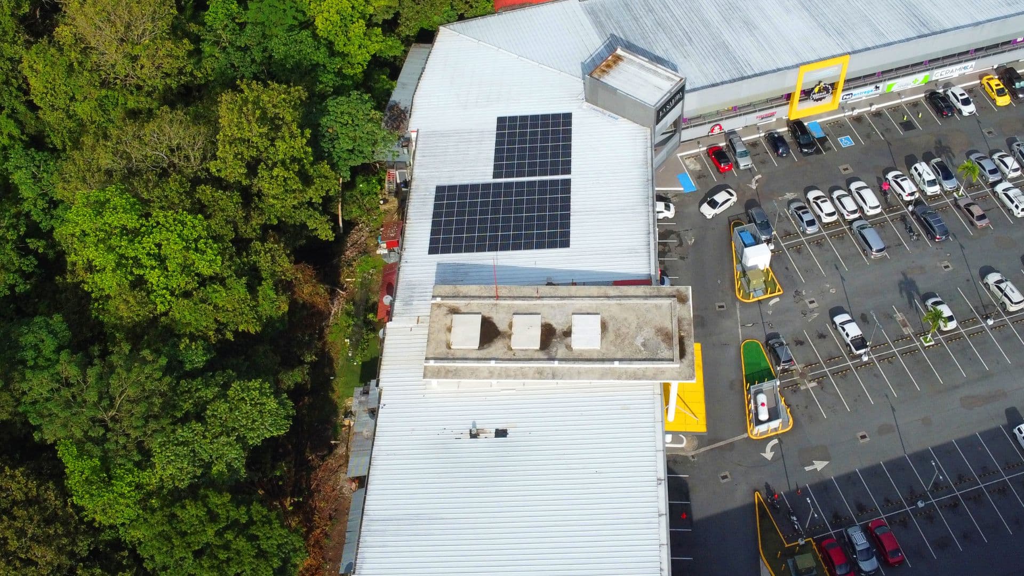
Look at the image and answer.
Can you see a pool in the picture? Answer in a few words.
No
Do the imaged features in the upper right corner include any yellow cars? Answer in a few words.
Yes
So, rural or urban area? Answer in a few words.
urban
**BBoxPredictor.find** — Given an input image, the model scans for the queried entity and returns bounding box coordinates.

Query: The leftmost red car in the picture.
[708,148,734,175]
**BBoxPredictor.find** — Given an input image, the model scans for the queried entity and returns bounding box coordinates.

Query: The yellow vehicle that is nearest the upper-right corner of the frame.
[981,78,1011,106]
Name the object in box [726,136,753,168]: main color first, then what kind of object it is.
gray car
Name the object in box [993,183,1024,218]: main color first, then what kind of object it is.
white car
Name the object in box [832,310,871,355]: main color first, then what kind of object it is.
white truck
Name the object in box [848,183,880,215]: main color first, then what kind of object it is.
white car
